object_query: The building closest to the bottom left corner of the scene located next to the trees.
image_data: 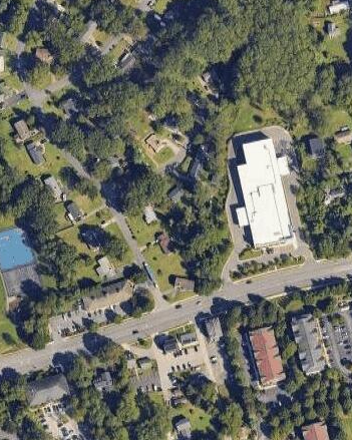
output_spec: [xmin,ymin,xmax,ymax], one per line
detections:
[25,374,69,407]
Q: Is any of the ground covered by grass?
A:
Yes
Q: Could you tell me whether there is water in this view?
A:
No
